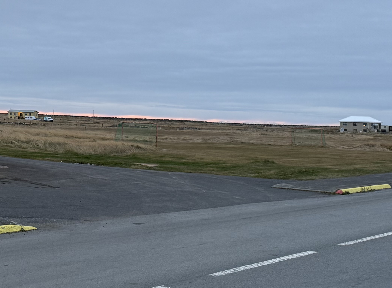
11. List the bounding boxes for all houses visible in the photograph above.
[7,106,39,120]
[337,116,383,132]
